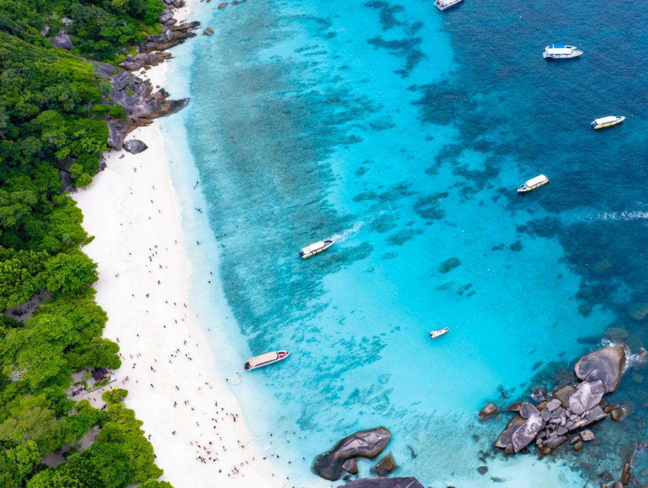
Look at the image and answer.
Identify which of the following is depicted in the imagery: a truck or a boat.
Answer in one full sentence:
Of the two, only a boat appears.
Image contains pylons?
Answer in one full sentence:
No, the photo shows no pylon.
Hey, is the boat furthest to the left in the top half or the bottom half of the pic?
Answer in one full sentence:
The bottom half of the photo is where the boat furthest to the left is.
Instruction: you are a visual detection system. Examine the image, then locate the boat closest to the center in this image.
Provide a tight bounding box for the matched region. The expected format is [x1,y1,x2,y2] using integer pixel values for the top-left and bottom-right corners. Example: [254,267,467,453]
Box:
[297,240,333,261]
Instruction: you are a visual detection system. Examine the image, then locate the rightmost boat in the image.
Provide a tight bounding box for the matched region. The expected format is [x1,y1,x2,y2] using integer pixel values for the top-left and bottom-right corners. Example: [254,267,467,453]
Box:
[587,114,625,130]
